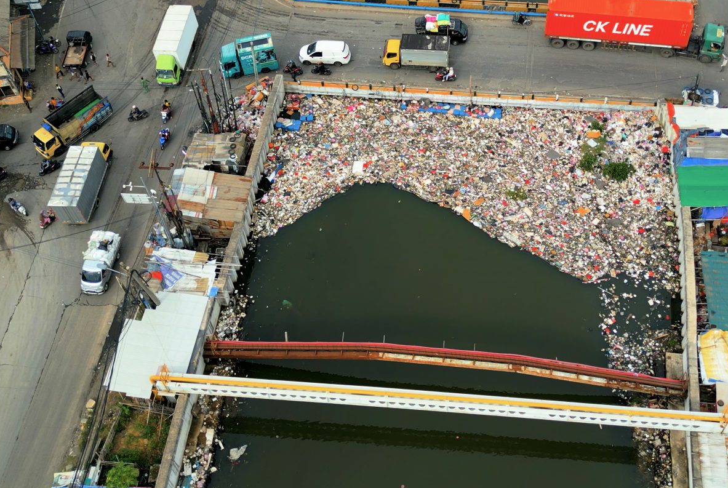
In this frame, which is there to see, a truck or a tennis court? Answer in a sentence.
It is a truck that can be seen here.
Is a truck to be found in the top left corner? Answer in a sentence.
Yes, you'll find a truck in the top left corner.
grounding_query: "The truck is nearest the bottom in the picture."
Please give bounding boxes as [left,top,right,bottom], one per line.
[75,230,121,296]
